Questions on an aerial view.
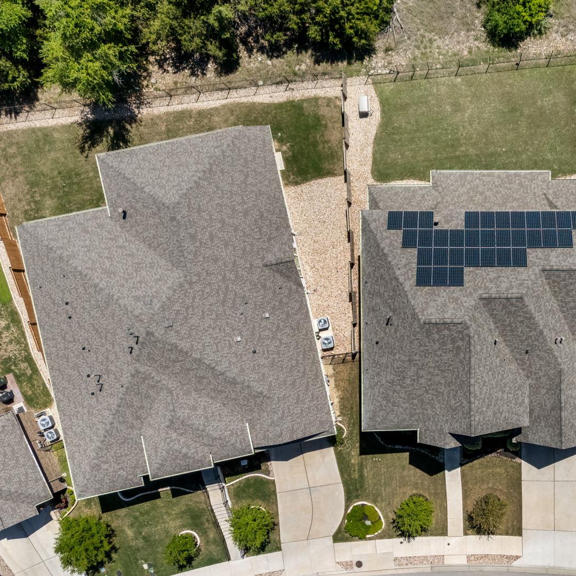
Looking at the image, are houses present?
Yes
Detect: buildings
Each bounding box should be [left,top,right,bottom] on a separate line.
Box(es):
[359,169,576,448]
[14,123,339,501]
[0,391,70,529]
